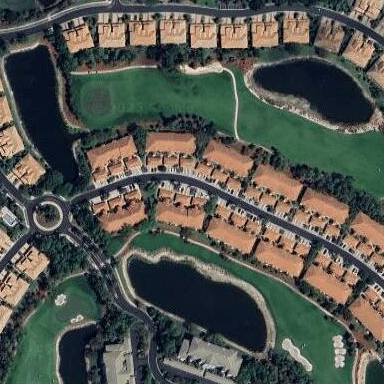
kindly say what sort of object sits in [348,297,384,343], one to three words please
house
